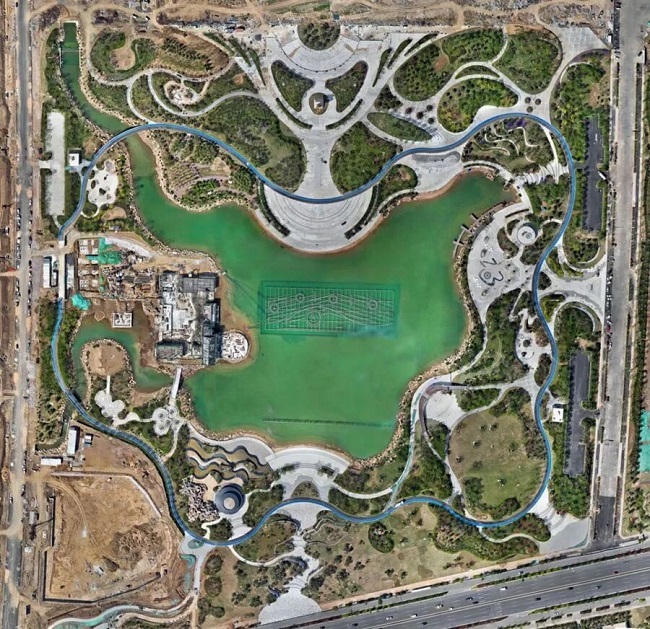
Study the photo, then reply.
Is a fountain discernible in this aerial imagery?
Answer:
Yes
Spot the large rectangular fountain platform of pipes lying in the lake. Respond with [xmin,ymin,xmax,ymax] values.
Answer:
[261,281,400,337]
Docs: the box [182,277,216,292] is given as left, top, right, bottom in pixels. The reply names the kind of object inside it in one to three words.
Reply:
building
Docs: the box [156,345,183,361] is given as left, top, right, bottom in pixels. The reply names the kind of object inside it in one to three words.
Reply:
building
